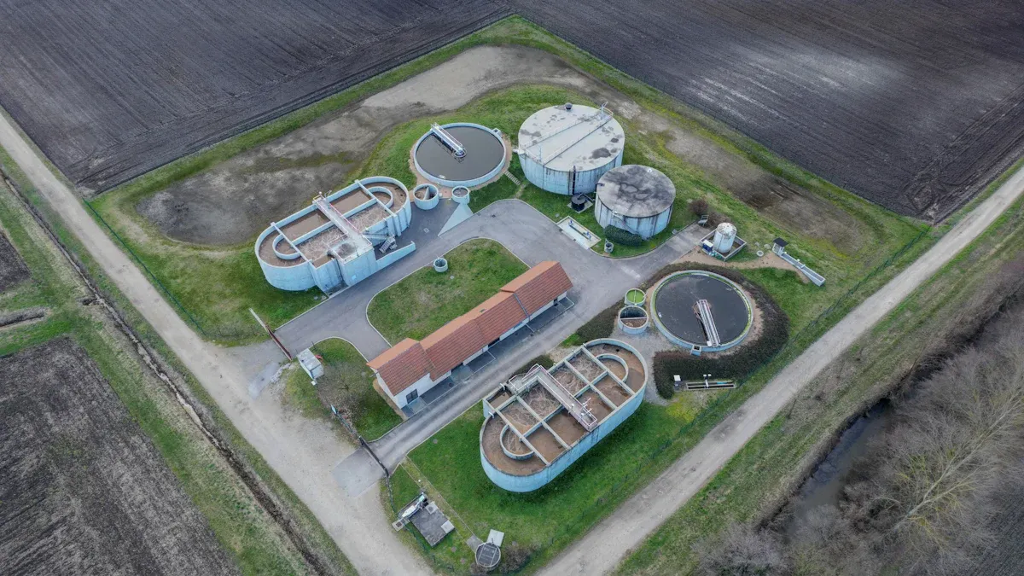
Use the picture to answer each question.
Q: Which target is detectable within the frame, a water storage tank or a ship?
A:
water storage tank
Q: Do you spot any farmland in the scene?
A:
Yes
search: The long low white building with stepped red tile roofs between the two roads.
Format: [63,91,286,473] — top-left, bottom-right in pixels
[367,261,576,420]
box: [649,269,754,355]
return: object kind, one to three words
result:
water tank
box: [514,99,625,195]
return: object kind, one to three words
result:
storage tank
